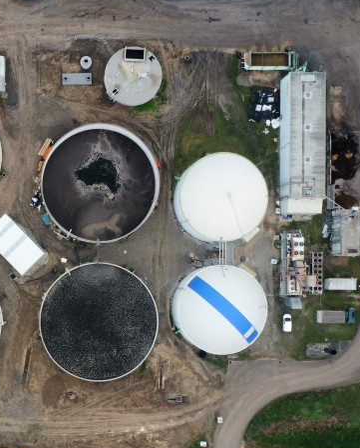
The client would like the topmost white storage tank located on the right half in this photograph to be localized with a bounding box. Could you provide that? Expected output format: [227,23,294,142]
[174,152,269,242]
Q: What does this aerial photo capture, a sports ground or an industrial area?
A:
industrial area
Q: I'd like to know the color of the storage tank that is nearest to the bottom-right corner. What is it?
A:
white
